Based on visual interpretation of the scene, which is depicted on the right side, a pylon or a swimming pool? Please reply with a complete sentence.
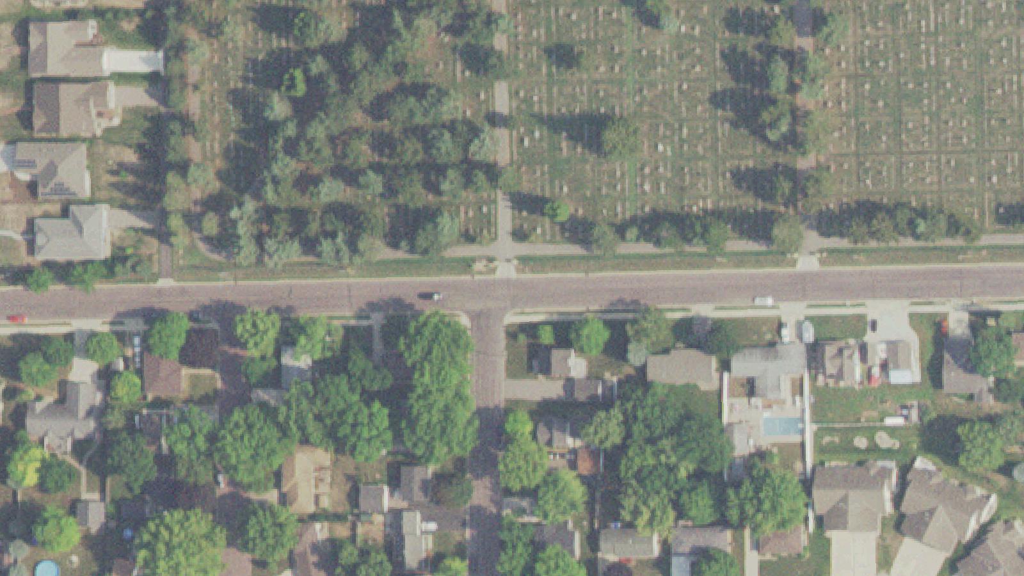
Looking on the right side, you will find a swimming pool.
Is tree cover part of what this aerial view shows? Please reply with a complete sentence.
Yes, some tree cover is visible.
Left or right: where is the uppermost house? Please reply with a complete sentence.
You can find the uppermost house on the left side of the picture.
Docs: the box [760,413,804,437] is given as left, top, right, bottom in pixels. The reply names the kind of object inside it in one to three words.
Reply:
swimming pool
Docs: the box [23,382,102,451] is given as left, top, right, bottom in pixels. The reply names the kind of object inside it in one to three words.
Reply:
house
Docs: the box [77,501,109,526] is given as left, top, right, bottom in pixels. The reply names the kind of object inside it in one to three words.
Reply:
building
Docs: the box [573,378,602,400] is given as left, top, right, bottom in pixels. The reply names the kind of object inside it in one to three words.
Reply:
house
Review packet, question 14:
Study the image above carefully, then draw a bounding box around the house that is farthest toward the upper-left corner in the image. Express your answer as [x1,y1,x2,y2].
[30,21,107,78]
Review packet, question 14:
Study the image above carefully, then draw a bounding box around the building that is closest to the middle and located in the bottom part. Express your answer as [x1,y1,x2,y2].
[551,349,580,378]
